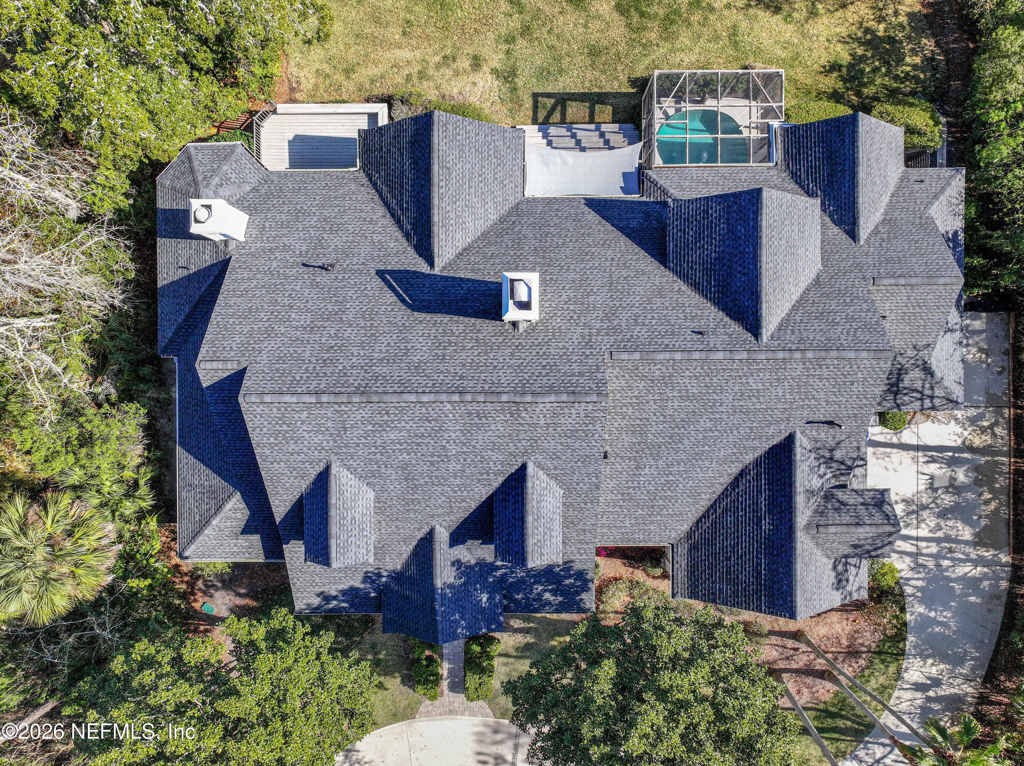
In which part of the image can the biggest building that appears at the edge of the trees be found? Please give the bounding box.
[154,111,967,645]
